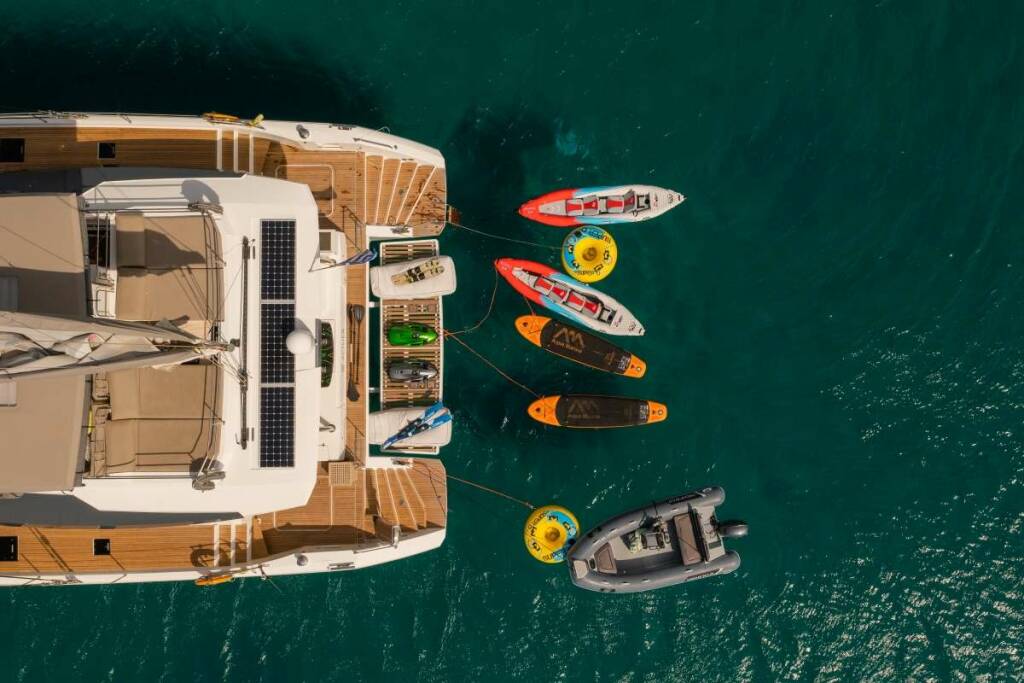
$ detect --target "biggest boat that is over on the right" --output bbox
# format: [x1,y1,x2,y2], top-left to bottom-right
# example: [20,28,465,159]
[566,486,747,591]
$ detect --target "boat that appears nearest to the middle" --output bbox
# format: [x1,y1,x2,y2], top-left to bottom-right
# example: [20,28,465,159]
[494,259,647,334]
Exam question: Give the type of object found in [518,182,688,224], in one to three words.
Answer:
boat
